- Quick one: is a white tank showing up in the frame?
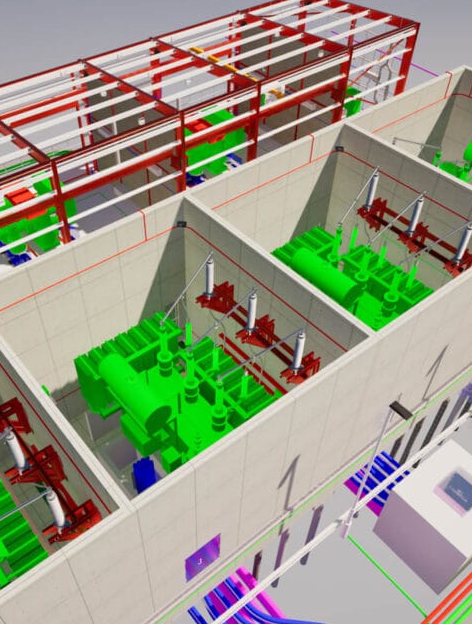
No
